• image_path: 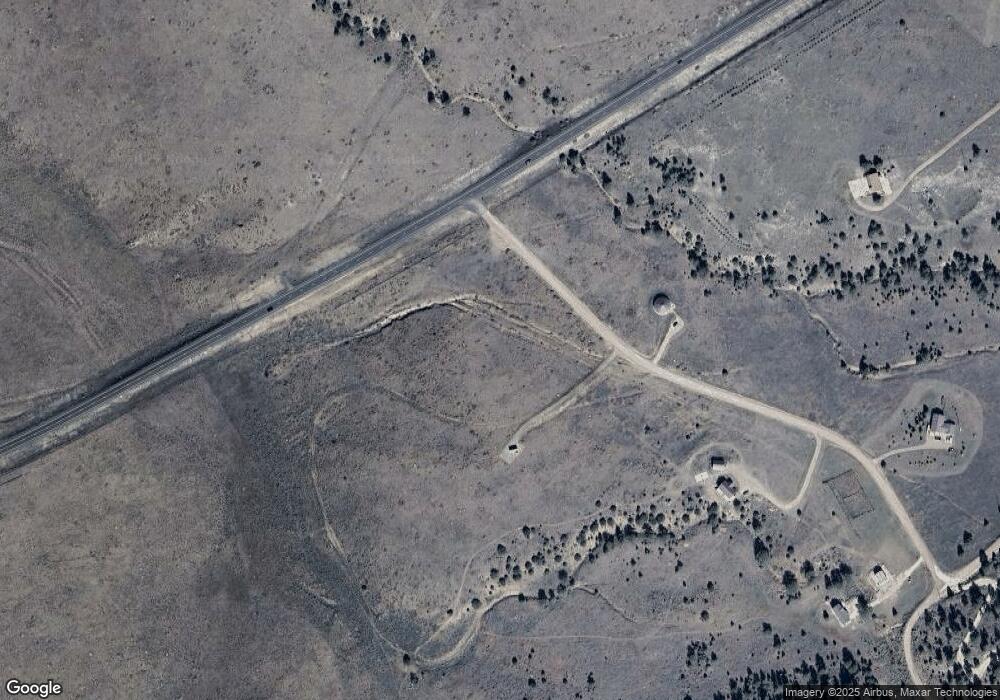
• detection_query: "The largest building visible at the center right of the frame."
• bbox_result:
[932,413,956,433]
